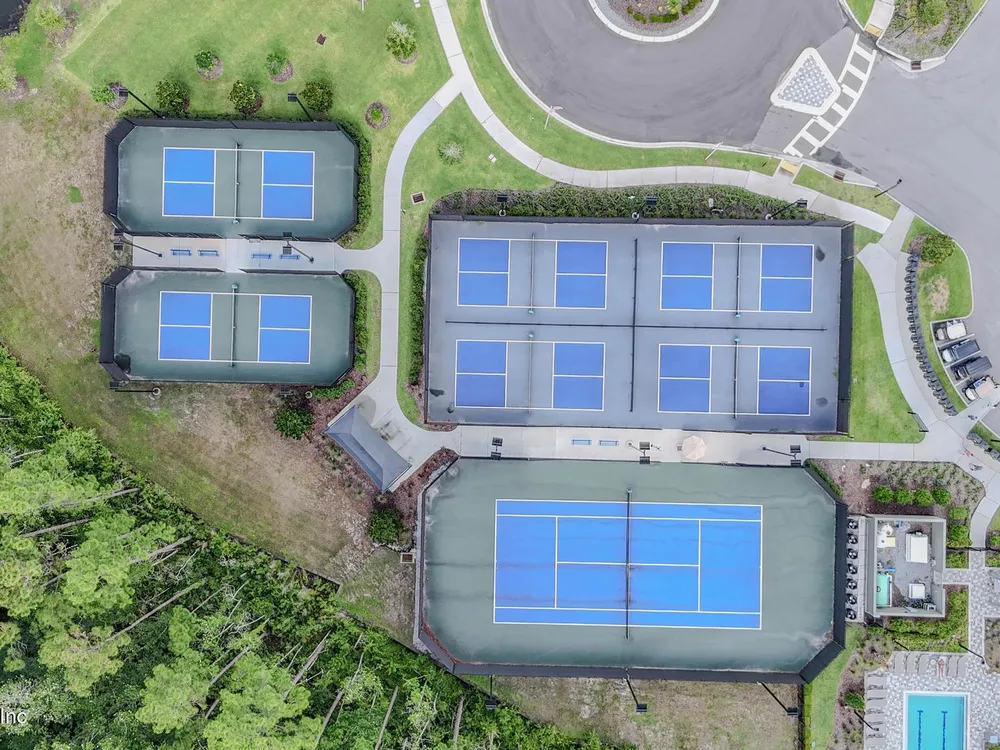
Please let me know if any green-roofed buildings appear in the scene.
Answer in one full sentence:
No, the photo shows no green-roofed building.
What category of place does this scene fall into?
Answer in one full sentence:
This looks like a sports ground.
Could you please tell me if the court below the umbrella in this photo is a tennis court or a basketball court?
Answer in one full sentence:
Specifically, the court below the umbrella is a tennis court.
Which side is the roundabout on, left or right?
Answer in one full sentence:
The roundabout is on the right side of the image.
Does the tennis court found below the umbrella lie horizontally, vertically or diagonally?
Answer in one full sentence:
From this overhead view, the tennis court found below the umbrella appears to run horizontally.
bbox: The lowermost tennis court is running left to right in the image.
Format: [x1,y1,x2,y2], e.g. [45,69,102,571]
[423,462,835,672]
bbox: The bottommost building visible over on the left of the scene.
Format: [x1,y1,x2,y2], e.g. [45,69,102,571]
[324,404,413,494]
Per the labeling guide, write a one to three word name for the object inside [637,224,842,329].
sports court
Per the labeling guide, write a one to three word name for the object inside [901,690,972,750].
swimming pool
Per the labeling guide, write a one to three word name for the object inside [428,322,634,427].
sports court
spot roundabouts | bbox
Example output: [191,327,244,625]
[489,0,820,140]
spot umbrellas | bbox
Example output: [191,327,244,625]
[683,436,707,459]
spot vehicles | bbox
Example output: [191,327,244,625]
[931,324,967,342]
[951,360,989,382]
[938,343,976,364]
[961,381,999,404]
